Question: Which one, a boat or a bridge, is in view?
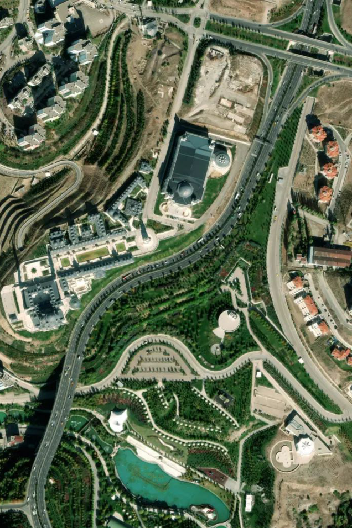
bridge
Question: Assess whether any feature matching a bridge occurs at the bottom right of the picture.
No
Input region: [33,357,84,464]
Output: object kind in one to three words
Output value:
bridge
